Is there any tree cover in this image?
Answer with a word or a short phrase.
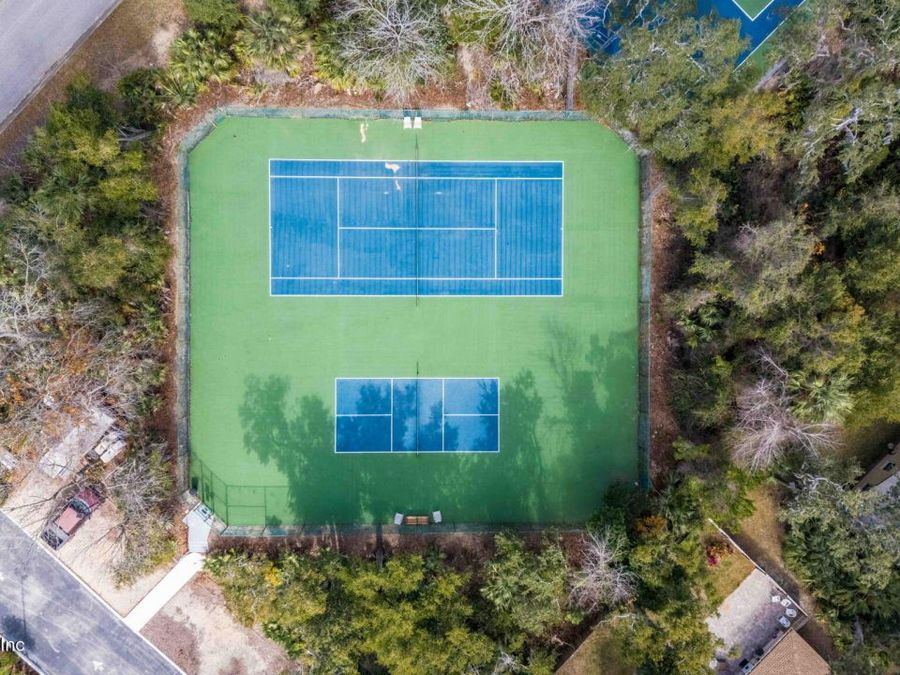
Yes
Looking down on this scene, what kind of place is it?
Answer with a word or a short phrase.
sports ground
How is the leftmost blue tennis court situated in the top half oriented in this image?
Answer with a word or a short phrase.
horizontally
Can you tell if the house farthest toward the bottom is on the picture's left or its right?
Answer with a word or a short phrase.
right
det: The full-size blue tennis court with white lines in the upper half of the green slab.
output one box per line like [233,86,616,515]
[269,159,563,296]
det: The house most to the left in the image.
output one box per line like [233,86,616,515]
[731,627,838,675]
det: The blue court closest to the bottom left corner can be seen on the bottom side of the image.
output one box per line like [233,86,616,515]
[336,378,499,453]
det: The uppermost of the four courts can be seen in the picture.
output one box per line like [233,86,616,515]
[552,0,834,130]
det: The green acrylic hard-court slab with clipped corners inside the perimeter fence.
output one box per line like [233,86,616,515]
[189,118,639,526]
